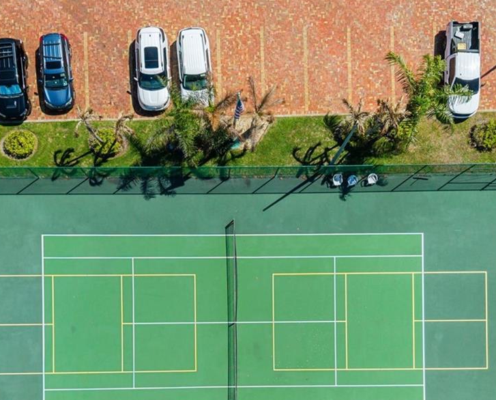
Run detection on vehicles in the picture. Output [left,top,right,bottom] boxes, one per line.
[0,41,30,119]
[133,29,173,112]
[176,30,215,112]
[36,34,75,110]
[443,22,484,118]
